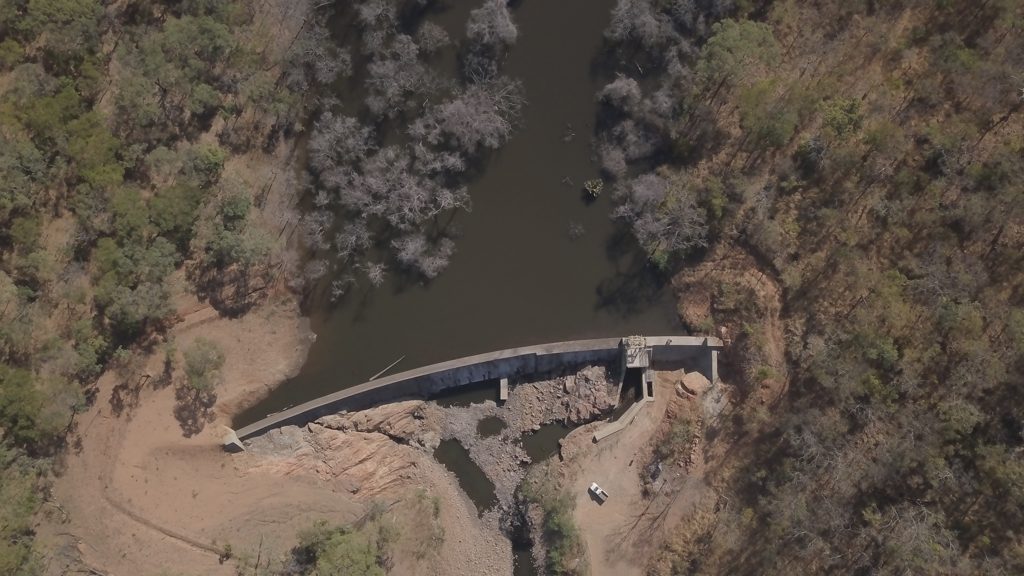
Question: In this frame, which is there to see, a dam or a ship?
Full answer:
Of the two, only a dam appears.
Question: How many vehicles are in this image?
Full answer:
The photo contains exactly 1 vehicle.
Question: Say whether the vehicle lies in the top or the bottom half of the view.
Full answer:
You can find the vehicle in the bottom half.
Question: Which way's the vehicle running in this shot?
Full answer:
From this overhead view, the vehicle appears to run on a diagonal.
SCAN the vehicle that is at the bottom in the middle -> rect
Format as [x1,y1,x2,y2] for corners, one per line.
[589,484,609,505]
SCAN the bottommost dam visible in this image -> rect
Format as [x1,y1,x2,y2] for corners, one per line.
[222,335,724,452]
